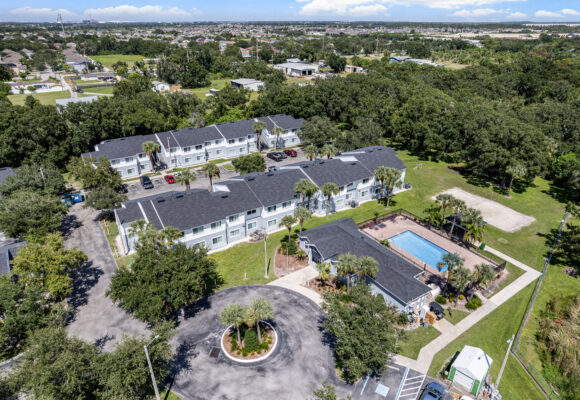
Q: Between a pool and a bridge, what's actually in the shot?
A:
pool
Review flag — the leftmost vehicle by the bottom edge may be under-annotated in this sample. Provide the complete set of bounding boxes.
[422,373,450,400]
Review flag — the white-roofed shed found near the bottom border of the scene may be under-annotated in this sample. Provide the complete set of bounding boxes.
[448,344,494,395]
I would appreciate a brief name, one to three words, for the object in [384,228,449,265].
swimming pool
